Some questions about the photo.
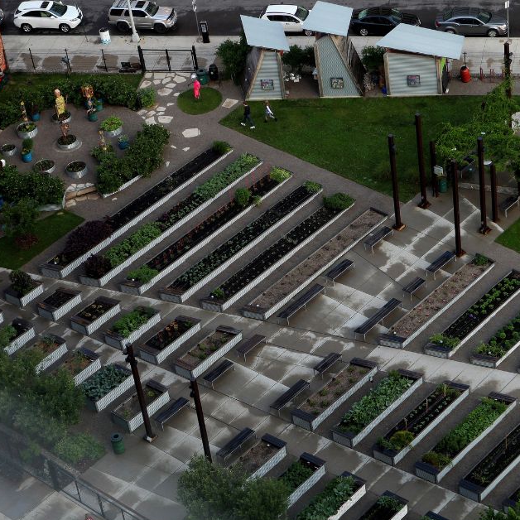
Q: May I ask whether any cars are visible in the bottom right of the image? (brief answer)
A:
No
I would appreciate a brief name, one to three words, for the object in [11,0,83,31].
car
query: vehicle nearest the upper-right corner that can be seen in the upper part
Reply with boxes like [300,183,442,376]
[436,2,510,33]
